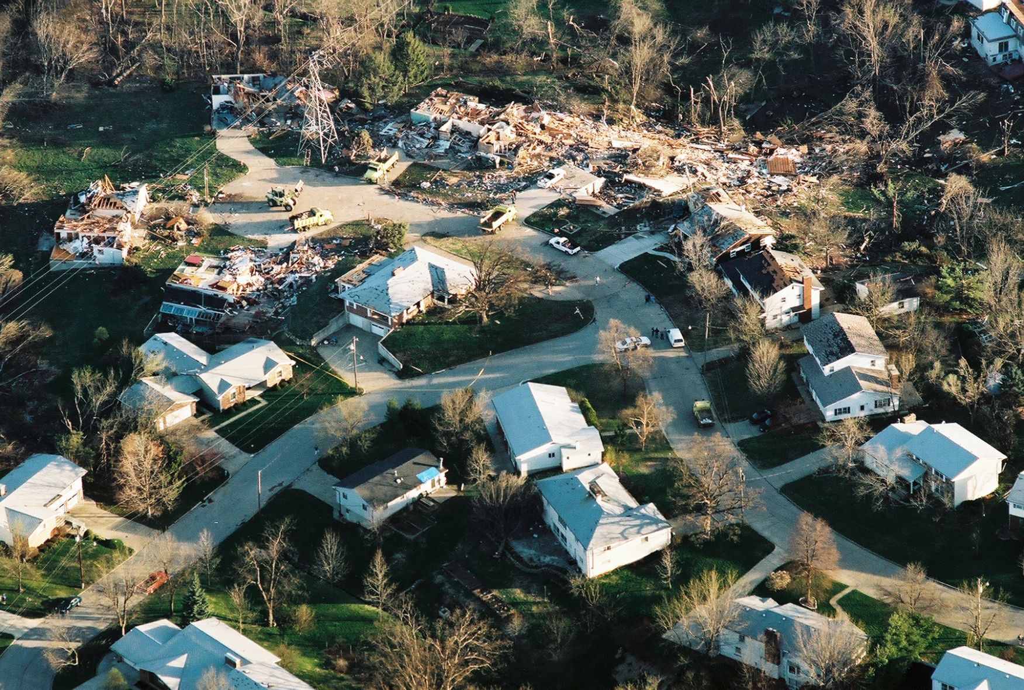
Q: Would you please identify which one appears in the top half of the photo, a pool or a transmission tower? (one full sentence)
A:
It is a transmission tower that can be seen in the top half of the photo.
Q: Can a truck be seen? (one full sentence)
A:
Yes, the frame does contain a truck.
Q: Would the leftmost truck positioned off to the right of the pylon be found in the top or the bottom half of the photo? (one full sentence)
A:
The top half of the photo is where the leftmost truck positioned off to the right of the pylon is.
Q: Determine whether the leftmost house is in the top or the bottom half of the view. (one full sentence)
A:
The leftmost house sits in the bottom half of the picture.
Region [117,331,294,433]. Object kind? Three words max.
house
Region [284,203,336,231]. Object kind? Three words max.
truck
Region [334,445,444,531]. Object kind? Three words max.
house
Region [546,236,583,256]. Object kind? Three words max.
vehicle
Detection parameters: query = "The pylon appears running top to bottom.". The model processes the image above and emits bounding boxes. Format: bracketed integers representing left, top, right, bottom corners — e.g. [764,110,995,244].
[293,41,341,164]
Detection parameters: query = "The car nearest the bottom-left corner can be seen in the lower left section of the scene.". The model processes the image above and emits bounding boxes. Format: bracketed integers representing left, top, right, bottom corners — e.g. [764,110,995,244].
[44,593,85,615]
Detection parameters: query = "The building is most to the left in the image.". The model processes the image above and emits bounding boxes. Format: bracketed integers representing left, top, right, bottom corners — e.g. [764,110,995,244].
[0,452,88,575]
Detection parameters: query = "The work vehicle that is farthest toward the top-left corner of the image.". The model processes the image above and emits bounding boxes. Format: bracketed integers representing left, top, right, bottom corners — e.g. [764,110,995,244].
[260,179,312,210]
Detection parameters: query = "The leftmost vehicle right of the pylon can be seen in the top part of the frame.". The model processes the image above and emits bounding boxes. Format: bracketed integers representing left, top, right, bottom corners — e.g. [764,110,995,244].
[361,150,400,184]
